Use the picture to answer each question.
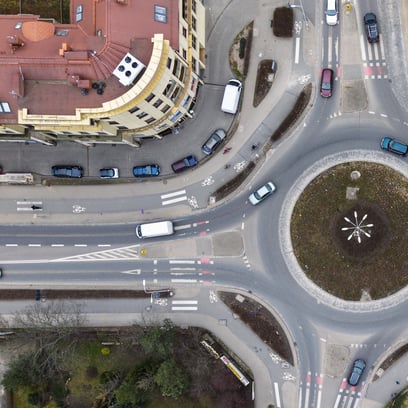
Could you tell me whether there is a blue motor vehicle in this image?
Yes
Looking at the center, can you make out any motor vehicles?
Yes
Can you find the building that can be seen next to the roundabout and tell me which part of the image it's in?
top left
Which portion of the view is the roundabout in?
right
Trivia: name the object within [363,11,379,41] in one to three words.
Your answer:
car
